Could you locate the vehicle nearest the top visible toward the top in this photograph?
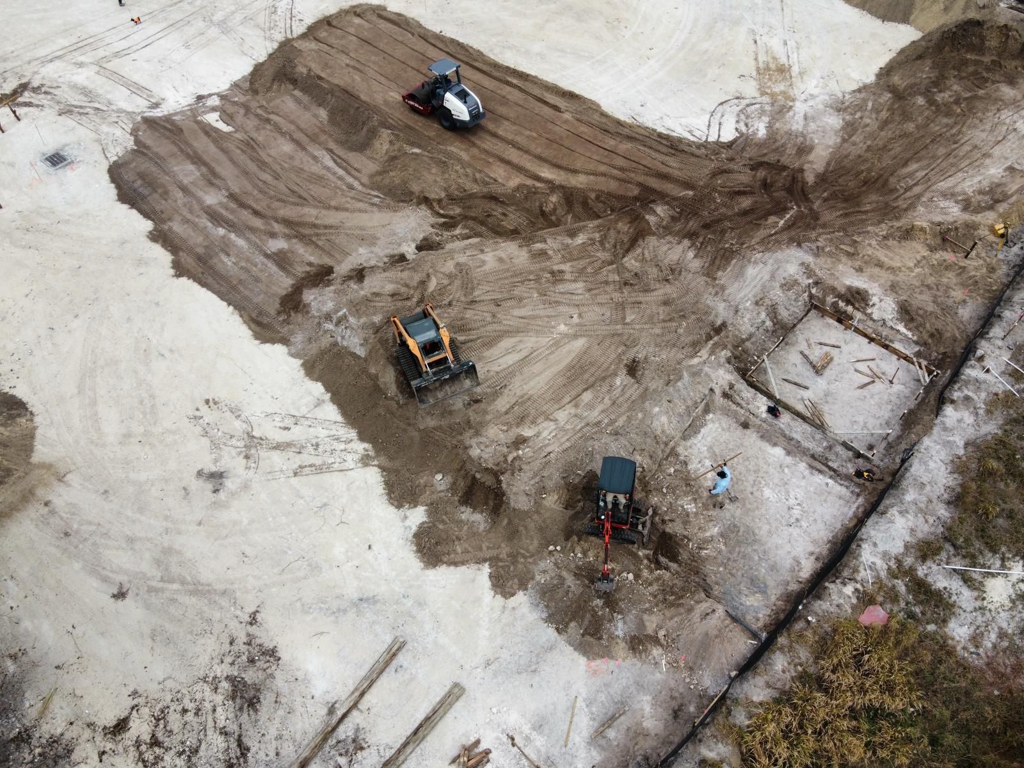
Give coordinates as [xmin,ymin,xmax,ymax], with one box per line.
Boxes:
[400,59,485,133]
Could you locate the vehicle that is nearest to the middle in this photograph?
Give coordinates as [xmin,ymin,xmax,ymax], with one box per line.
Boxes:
[388,305,480,412]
